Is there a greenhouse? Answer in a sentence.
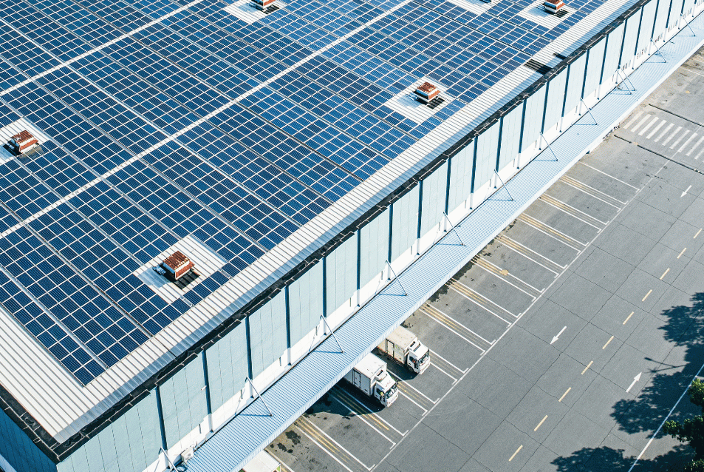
No, the picture doesn't show any greenhouse.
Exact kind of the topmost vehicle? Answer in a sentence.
The topmost vehicle can be classified as a truck.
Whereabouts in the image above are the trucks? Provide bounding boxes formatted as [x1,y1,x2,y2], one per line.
[342,350,403,409]
[233,445,280,472]
[374,319,435,377]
